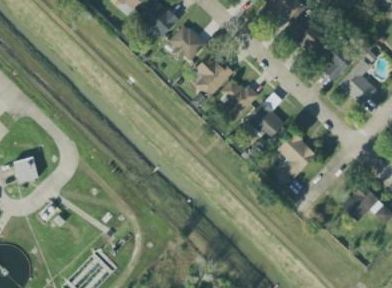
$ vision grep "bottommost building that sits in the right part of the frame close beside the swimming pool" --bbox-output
[350,72,380,102]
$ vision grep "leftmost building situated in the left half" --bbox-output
[12,156,38,185]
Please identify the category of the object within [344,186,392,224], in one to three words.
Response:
house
